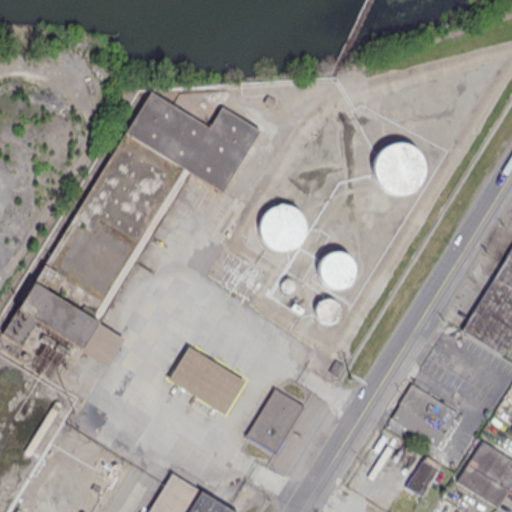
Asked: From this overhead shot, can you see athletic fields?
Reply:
No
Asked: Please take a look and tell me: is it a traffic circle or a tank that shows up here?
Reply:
tank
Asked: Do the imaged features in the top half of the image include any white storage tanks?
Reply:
Yes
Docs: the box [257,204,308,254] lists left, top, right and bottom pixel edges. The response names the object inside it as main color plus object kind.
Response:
white storage tank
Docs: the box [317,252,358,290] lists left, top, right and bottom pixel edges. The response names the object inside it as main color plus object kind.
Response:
white storage tank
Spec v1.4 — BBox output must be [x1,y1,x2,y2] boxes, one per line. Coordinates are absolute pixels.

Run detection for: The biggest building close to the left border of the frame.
[3,282,100,347]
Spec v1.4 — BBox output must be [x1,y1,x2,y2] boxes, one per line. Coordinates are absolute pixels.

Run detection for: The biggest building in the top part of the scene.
[131,92,258,191]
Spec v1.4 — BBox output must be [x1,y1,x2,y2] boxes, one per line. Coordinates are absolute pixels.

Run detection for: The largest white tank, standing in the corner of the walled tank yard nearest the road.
[372,142,428,196]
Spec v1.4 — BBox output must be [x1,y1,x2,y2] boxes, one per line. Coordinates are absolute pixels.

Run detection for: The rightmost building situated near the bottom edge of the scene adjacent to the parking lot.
[456,440,512,506]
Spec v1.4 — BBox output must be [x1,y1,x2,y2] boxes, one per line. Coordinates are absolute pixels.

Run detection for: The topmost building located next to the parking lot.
[462,250,512,361]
